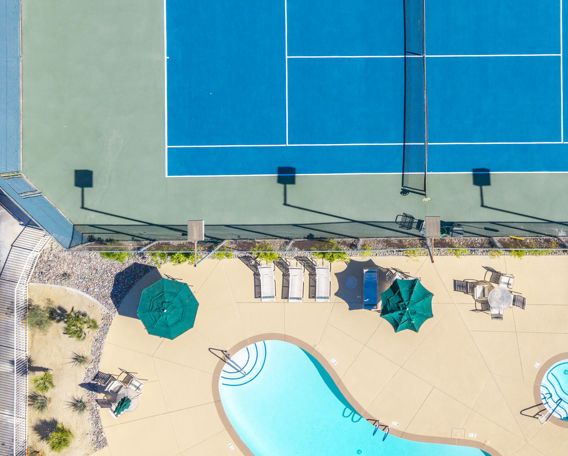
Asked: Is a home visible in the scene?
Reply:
No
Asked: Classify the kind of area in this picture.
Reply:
sports ground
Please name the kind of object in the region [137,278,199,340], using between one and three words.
umbrella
